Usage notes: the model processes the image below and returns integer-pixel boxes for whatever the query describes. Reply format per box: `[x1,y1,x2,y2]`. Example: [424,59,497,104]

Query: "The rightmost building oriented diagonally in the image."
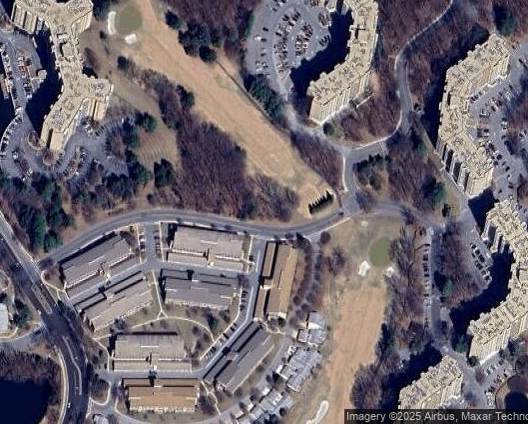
[391,355,463,424]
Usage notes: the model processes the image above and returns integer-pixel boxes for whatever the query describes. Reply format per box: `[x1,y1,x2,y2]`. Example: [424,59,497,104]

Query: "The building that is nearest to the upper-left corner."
[11,0,111,155]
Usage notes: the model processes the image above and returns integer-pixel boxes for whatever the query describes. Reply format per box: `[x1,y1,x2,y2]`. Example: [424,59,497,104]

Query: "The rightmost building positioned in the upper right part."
[435,33,511,197]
